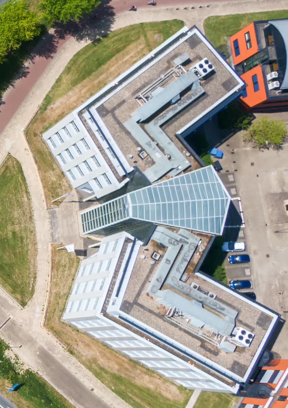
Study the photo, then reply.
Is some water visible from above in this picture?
No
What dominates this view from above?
buildings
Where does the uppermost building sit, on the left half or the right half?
right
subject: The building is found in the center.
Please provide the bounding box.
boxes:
[51,24,282,394]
